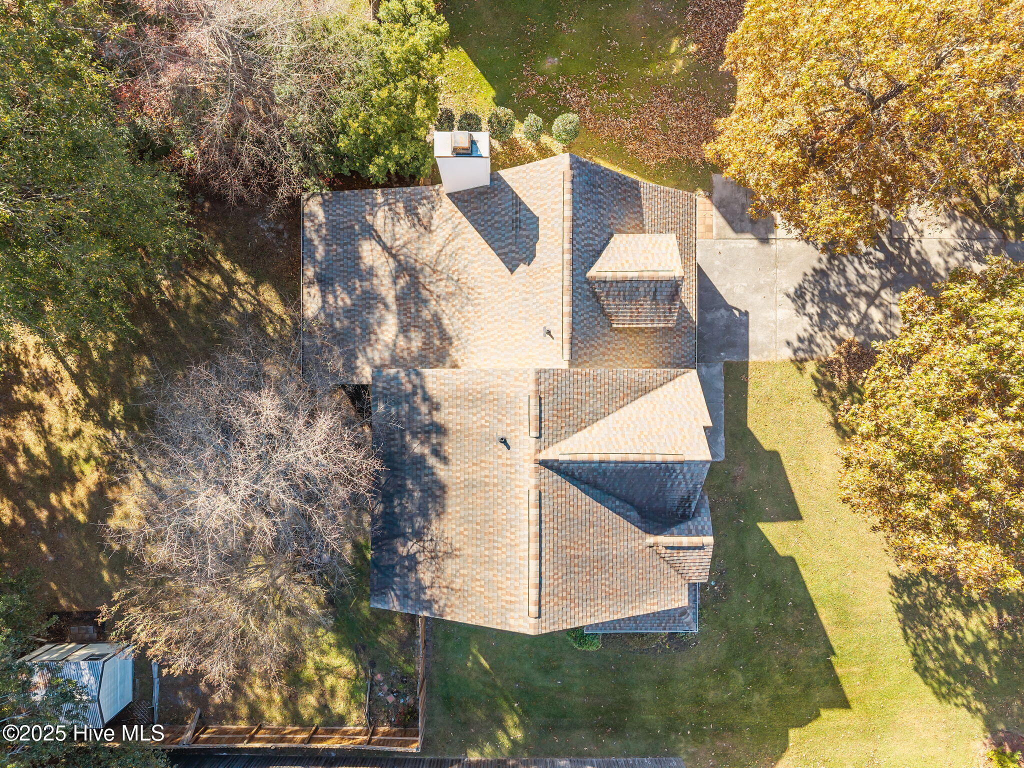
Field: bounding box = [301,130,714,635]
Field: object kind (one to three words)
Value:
house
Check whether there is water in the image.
No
